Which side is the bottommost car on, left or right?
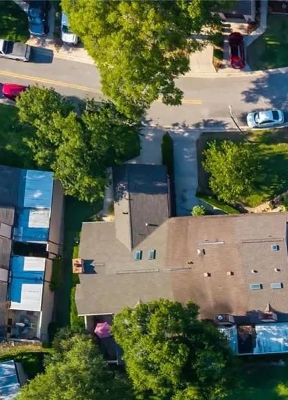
right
